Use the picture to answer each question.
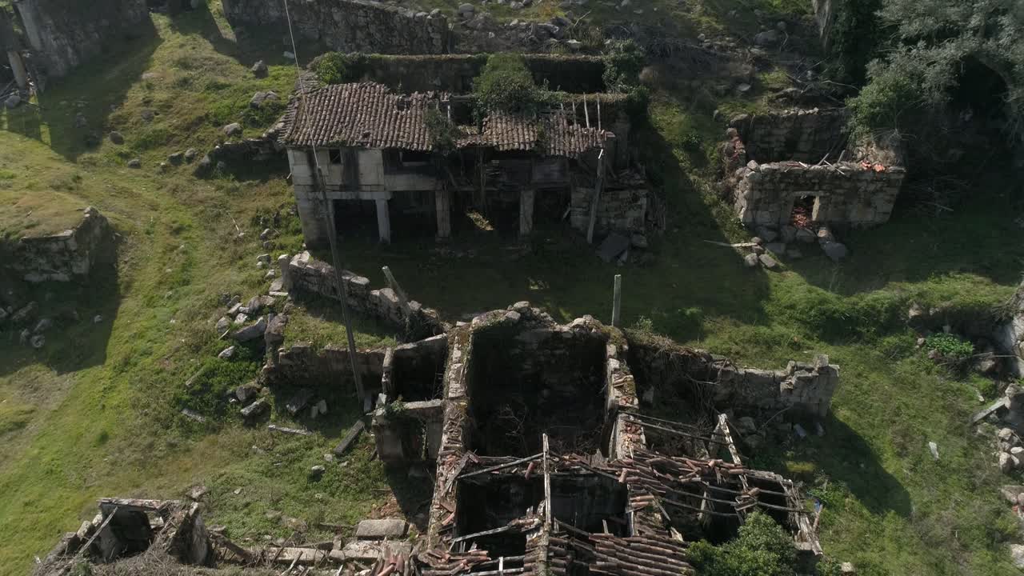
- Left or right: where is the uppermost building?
left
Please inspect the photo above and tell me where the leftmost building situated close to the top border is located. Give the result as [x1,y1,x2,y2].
[0,0,157,81]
